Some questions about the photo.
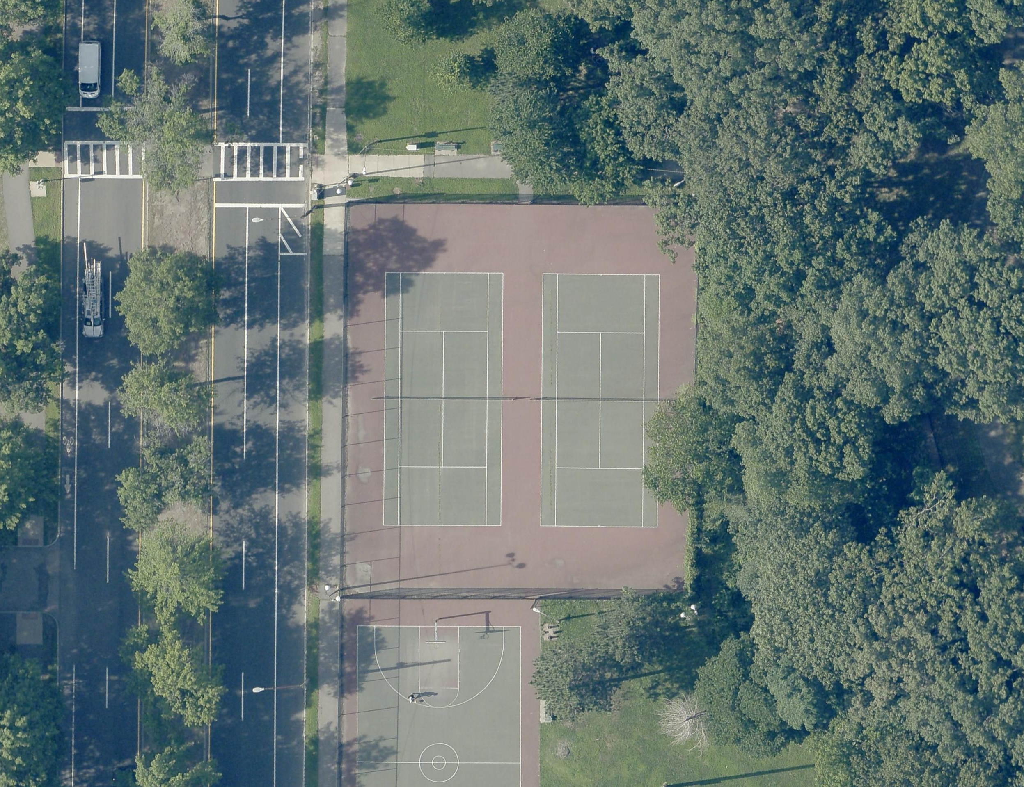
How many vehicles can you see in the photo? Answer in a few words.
2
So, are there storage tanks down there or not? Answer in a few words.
No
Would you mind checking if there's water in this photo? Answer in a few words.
No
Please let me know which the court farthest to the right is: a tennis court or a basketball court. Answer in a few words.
tennis court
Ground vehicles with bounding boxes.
[78,40,102,98]
[81,278,105,338]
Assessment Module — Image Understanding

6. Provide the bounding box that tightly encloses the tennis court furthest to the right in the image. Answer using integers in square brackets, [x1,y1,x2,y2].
[540,262,660,527]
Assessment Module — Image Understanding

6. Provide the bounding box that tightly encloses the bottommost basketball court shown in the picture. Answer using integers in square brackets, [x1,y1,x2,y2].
[357,626,521,787]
